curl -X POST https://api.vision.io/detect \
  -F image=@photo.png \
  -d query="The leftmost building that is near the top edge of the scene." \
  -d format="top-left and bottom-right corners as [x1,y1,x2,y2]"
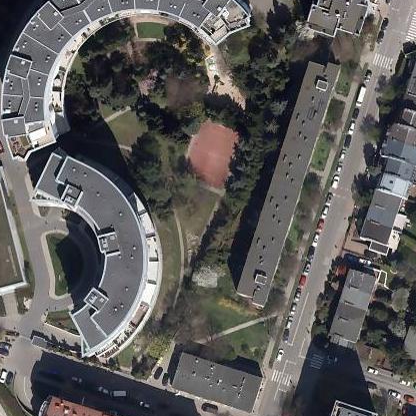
[1,0,259,162]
